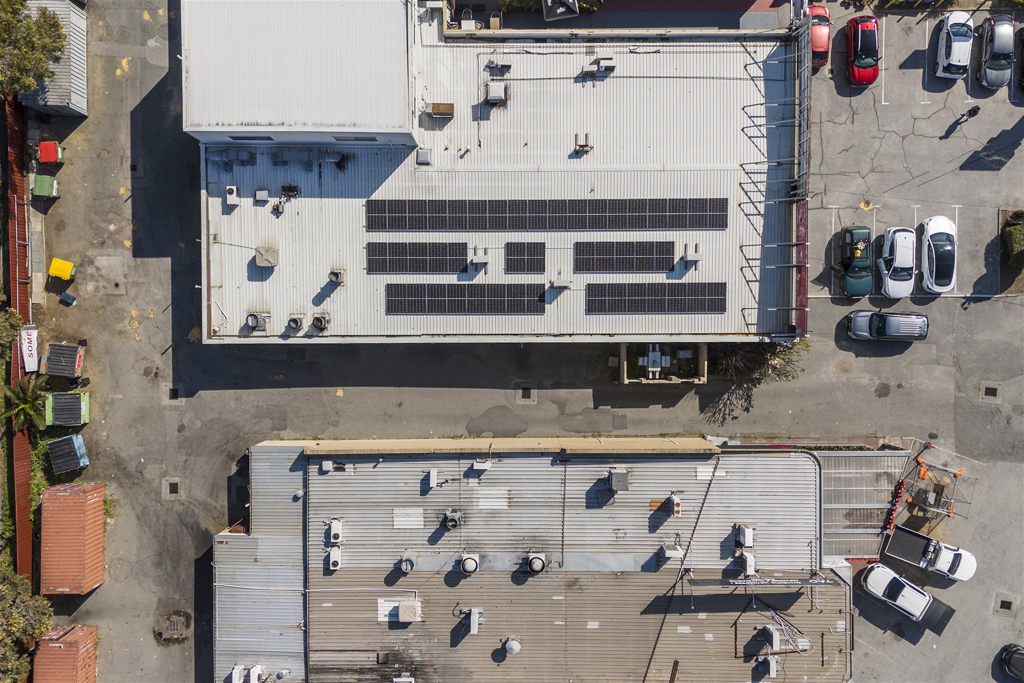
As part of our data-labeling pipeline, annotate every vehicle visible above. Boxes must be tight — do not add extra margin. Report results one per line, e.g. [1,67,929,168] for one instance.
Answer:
[882,523,971,581]
[844,309,931,343]
[932,12,973,81]
[874,226,918,299]
[972,15,1013,90]
[798,7,834,69]
[1016,25,1024,97]
[857,563,953,635]
[841,15,881,89]
[826,225,876,297]
[917,216,958,295]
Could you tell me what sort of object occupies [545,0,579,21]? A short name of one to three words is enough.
umbrella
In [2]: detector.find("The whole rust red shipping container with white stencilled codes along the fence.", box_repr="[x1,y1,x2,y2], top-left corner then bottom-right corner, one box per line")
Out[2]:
[41,482,103,594]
